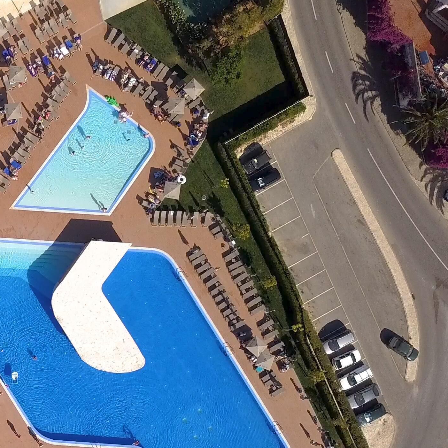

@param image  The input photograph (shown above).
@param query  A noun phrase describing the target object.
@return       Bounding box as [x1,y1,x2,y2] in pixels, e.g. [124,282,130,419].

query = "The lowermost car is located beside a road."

[355,400,388,425]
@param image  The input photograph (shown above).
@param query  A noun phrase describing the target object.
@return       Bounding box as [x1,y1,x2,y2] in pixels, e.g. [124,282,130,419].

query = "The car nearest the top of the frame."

[238,146,278,177]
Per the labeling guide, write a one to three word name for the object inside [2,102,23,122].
umbrella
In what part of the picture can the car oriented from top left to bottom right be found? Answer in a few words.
bottom right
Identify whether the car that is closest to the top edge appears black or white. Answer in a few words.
black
